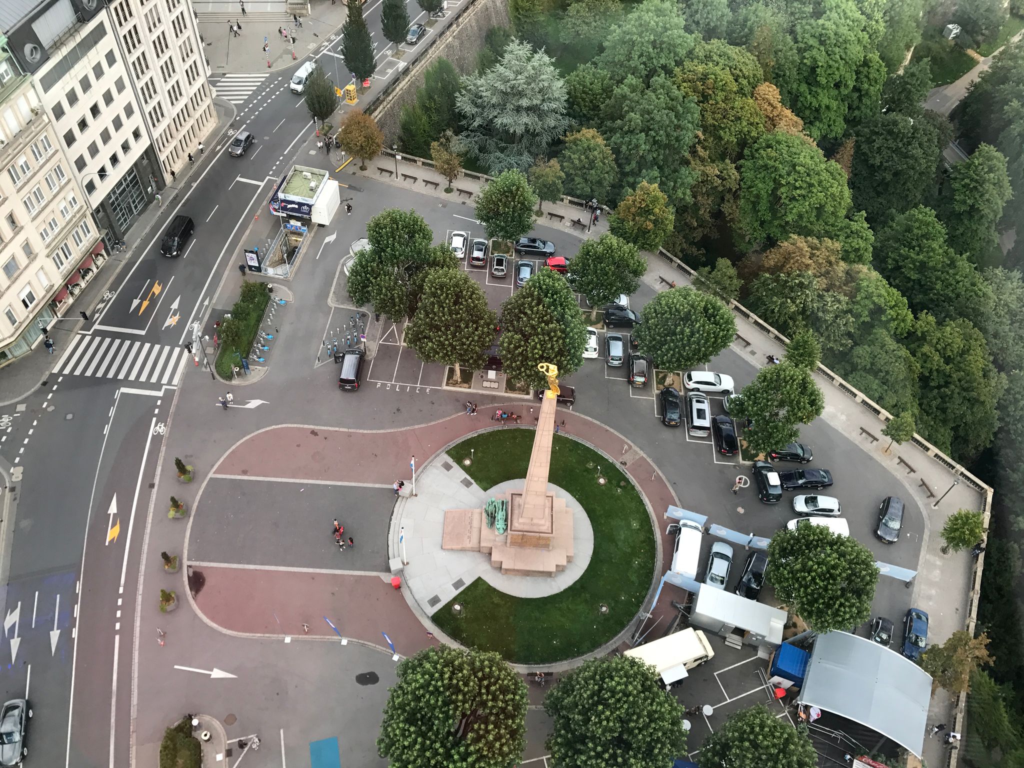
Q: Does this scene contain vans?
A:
Yes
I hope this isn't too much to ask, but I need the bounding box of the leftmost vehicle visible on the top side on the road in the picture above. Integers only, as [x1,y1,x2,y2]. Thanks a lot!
[163,214,197,258]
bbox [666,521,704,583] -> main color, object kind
white van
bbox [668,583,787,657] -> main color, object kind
white trailer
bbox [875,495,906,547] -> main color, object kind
gray car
